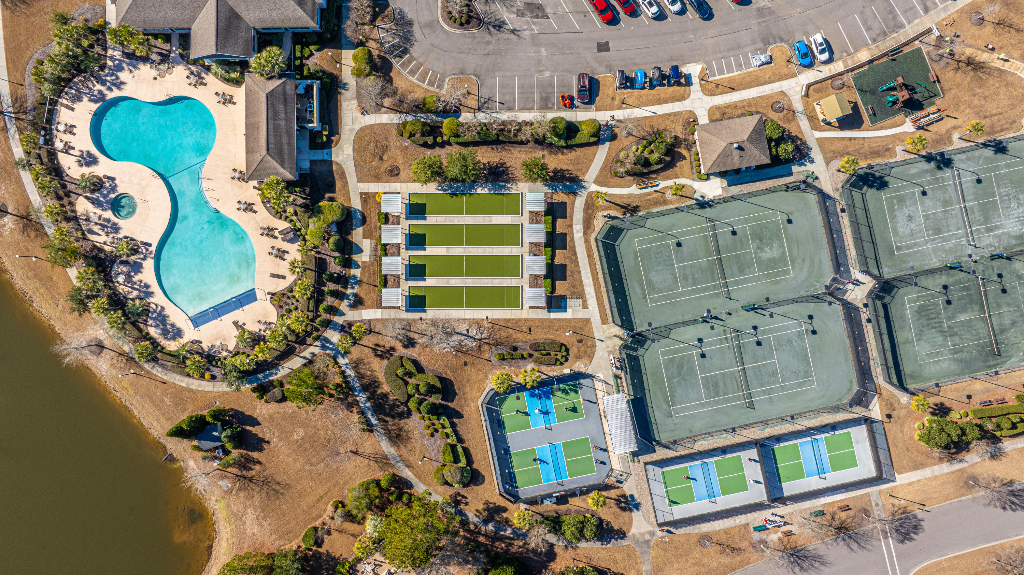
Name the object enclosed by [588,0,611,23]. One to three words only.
car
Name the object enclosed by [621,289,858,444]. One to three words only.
tennis court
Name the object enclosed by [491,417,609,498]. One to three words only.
sports court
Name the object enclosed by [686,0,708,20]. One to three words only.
car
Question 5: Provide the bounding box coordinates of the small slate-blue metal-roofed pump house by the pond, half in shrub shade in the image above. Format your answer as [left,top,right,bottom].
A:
[197,423,225,451]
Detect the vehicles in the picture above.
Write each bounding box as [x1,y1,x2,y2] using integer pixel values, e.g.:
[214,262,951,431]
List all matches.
[670,66,682,84]
[808,31,828,62]
[637,0,660,19]
[616,70,627,88]
[663,0,681,15]
[652,67,663,85]
[686,0,708,20]
[588,0,611,23]
[635,70,645,88]
[616,0,635,16]
[577,72,591,103]
[792,39,811,67]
